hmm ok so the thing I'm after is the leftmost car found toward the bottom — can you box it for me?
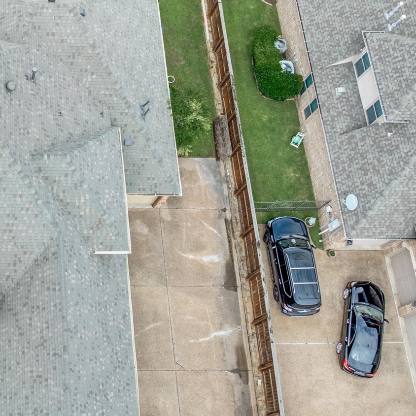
[263,215,327,317]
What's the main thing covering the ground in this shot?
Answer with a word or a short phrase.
buildings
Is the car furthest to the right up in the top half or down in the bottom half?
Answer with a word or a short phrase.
bottom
